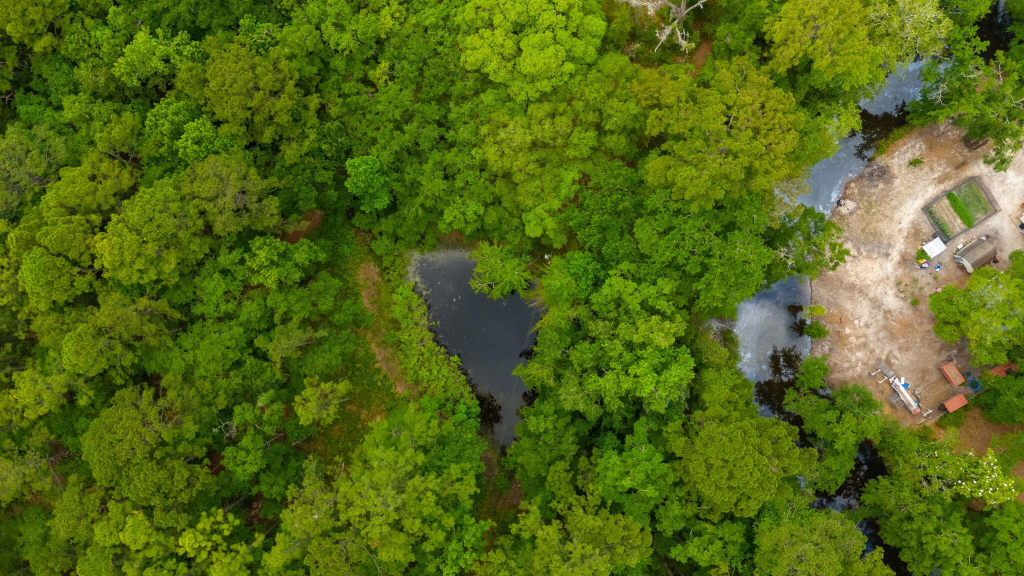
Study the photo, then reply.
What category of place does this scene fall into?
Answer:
forest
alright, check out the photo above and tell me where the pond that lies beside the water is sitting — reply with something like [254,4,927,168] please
[408,247,544,452]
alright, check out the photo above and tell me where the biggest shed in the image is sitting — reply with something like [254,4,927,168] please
[949,238,998,275]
